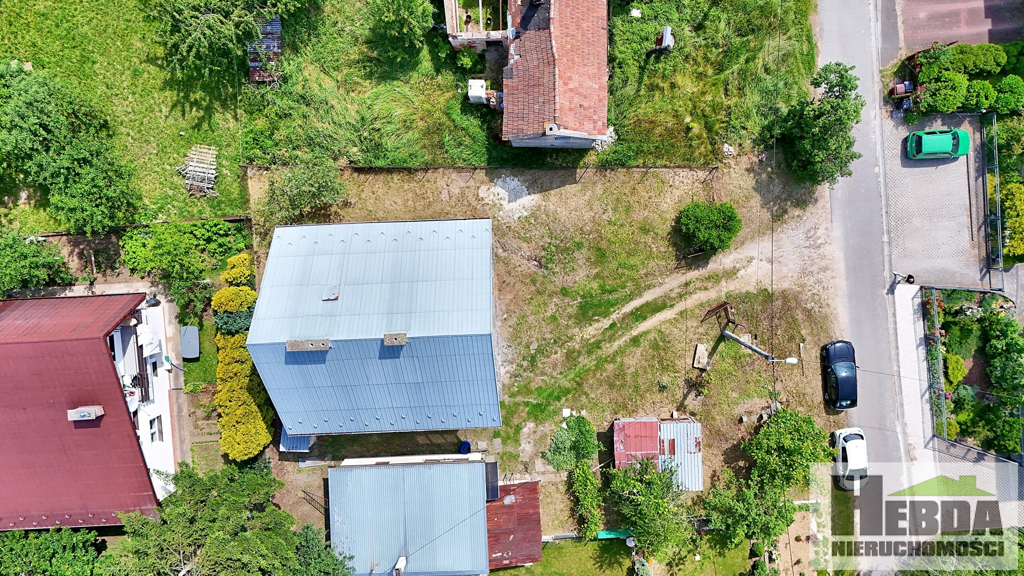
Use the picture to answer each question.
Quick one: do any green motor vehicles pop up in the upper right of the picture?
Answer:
Yes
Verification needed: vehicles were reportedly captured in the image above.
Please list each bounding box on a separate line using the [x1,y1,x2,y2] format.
[905,126,972,160]
[819,341,857,410]
[833,427,871,490]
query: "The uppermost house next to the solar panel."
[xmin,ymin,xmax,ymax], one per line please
[245,215,501,438]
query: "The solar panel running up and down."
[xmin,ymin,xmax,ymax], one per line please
[485,450,501,500]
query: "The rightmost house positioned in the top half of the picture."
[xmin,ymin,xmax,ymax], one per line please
[446,0,609,149]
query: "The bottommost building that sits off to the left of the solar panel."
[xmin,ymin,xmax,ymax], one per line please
[327,455,490,576]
